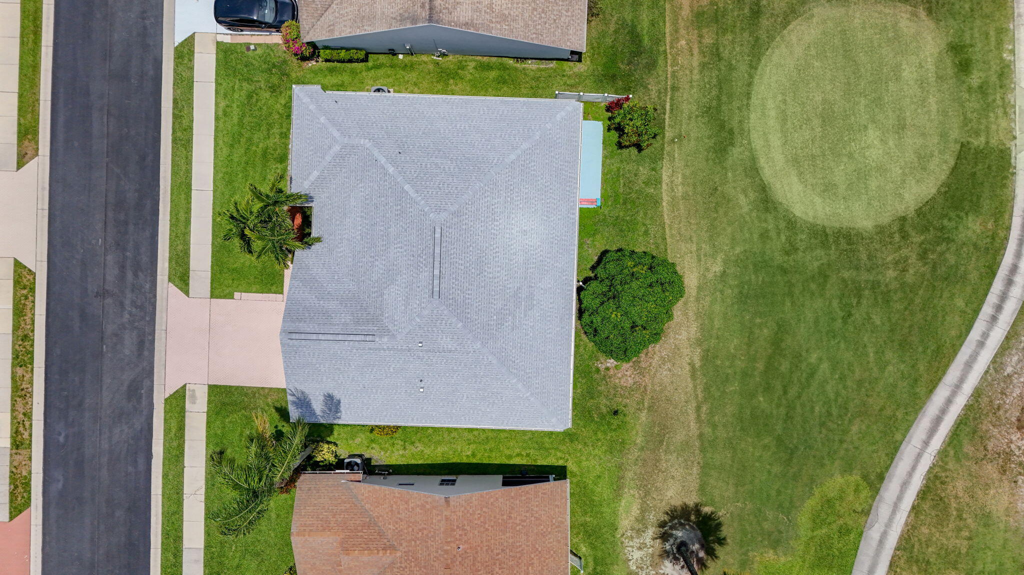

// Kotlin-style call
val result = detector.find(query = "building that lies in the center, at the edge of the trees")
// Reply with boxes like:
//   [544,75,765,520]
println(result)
[280,84,583,431]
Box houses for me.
[280,84,583,431]
[296,0,589,59]
[291,468,570,575]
